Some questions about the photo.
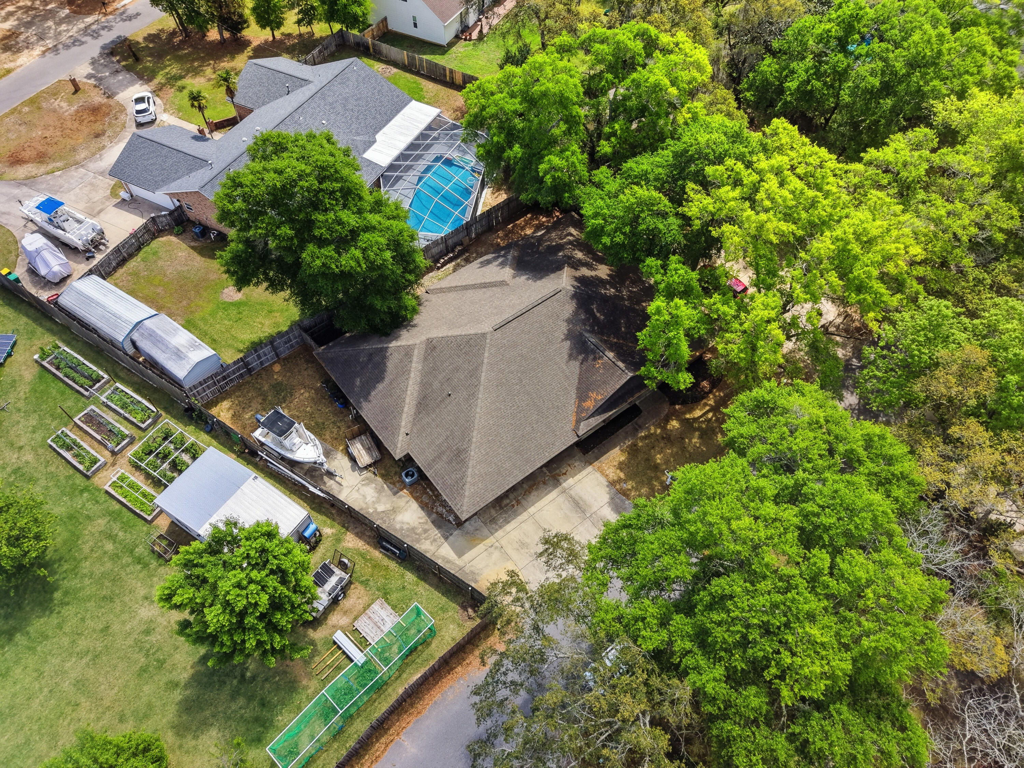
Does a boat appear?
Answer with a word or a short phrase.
Yes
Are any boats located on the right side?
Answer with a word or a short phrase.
No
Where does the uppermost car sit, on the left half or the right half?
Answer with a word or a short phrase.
left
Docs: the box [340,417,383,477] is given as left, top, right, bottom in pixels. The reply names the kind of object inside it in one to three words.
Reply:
trailer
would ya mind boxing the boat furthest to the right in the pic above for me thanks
[250,412,337,476]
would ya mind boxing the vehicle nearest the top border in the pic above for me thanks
[125,88,158,126]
